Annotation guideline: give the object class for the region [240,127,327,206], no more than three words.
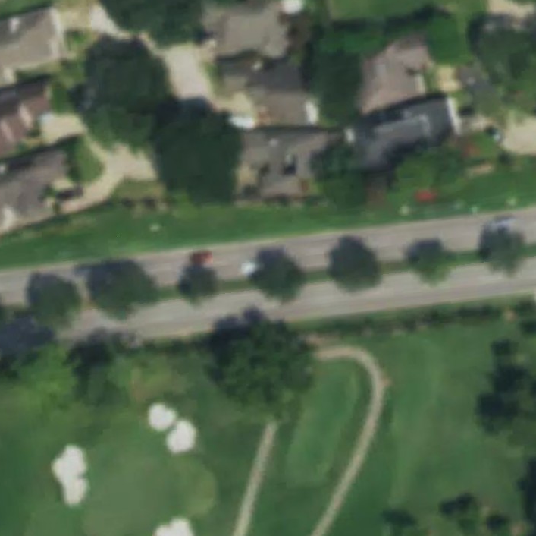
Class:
house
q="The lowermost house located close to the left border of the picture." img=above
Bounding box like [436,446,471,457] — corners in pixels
[0,148,89,231]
